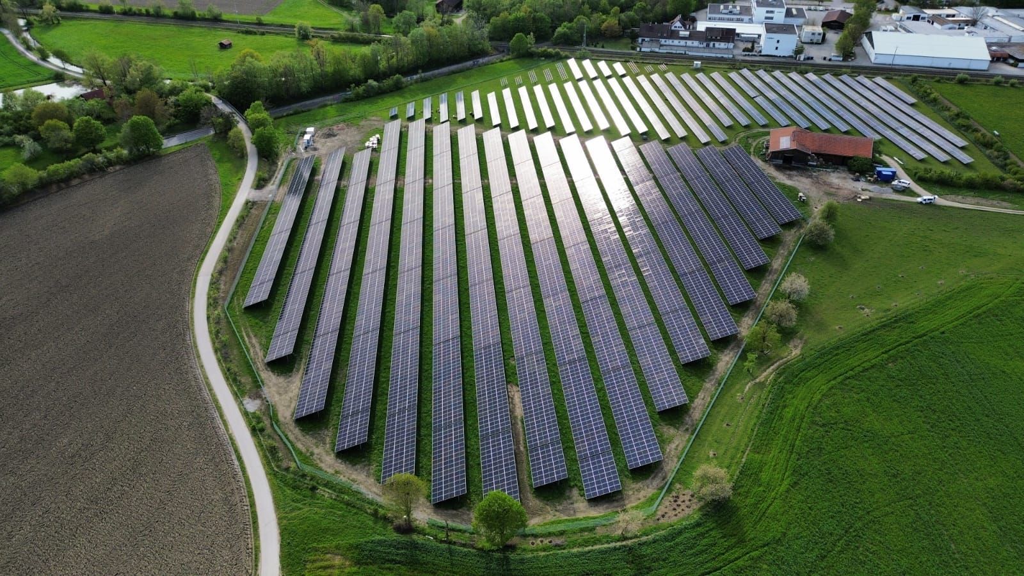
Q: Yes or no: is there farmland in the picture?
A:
Yes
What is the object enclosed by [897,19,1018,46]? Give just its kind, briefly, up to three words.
building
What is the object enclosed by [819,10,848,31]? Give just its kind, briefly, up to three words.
shed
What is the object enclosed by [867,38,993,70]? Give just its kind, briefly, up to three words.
building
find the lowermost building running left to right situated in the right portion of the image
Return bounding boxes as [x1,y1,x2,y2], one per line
[769,124,873,166]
